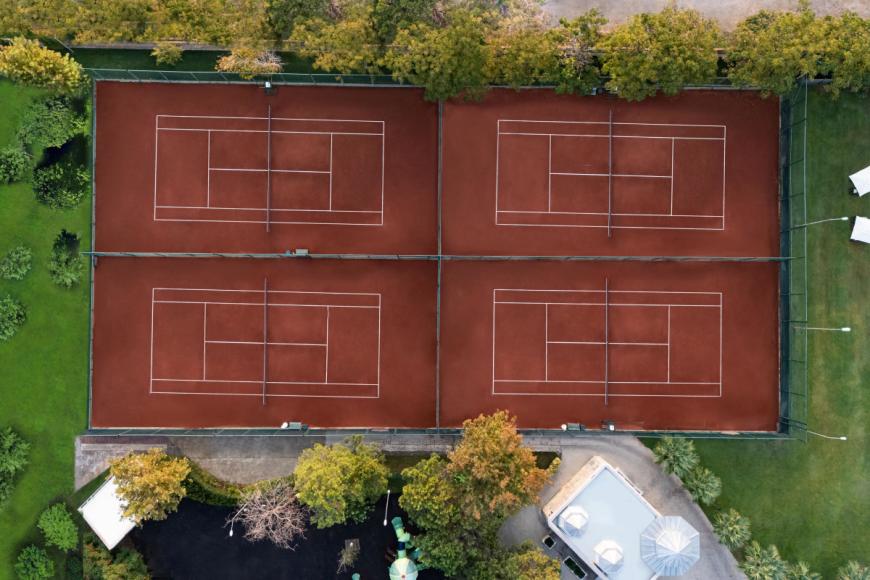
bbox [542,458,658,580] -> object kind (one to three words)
building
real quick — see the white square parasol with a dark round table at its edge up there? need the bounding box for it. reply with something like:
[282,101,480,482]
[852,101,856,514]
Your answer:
[845,164,870,198]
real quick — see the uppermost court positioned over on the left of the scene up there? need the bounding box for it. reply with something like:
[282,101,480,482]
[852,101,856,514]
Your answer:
[94,82,440,256]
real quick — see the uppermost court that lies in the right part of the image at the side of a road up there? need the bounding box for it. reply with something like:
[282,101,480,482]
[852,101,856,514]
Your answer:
[442,87,779,258]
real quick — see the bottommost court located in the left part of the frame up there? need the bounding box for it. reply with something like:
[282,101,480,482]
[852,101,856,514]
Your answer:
[93,259,440,429]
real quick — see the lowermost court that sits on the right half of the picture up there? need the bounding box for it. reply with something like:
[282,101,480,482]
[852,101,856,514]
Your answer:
[439,259,778,431]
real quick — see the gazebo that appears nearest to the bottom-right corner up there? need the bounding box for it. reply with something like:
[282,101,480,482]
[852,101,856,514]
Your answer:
[640,508,700,577]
